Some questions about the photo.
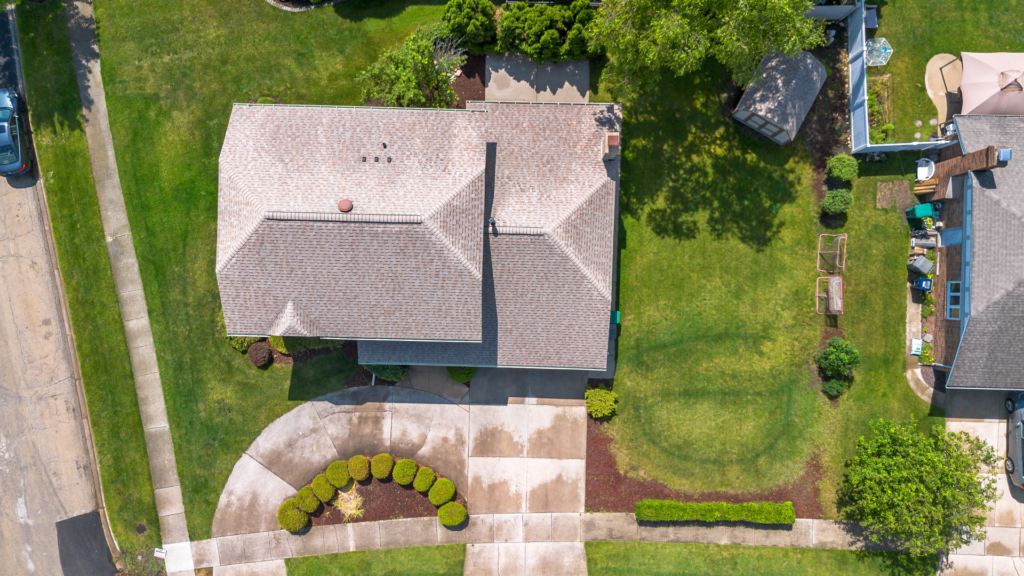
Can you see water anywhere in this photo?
No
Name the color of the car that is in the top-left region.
blue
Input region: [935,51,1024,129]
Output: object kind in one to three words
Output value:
gazebo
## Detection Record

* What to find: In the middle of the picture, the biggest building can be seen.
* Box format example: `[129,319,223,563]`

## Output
[215,98,620,387]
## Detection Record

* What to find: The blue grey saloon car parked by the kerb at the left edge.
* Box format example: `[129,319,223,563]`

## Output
[0,85,38,179]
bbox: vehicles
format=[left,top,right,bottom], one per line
[0,85,38,179]
[1003,393,1024,490]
